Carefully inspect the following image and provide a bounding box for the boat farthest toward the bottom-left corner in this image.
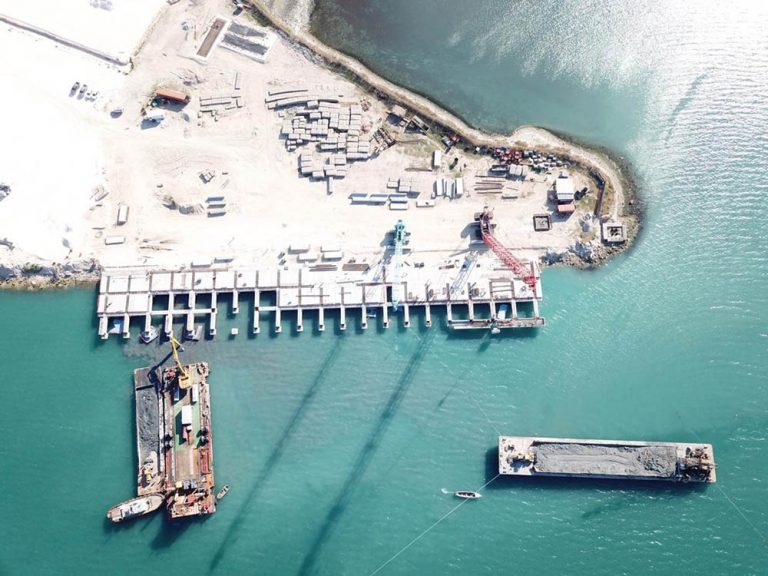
[105,495,166,524]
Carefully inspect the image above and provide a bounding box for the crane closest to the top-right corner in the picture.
[472,202,541,336]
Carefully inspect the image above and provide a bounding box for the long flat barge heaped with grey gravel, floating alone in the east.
[496,436,716,483]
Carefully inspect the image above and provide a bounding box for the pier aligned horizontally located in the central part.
[97,254,541,340]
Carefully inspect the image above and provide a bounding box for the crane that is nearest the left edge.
[387,212,410,318]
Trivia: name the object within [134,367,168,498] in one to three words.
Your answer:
ship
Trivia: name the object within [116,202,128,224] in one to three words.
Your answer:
vehicle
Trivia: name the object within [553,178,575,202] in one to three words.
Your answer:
shed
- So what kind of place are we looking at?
port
